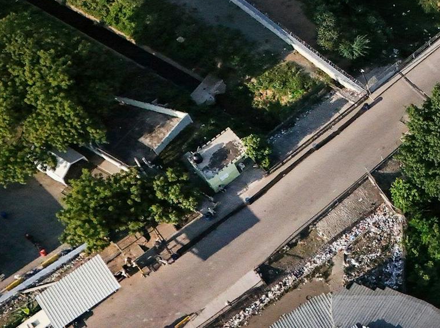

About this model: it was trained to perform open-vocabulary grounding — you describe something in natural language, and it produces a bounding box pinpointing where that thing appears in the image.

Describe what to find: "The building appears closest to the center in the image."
[186,127,250,195]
